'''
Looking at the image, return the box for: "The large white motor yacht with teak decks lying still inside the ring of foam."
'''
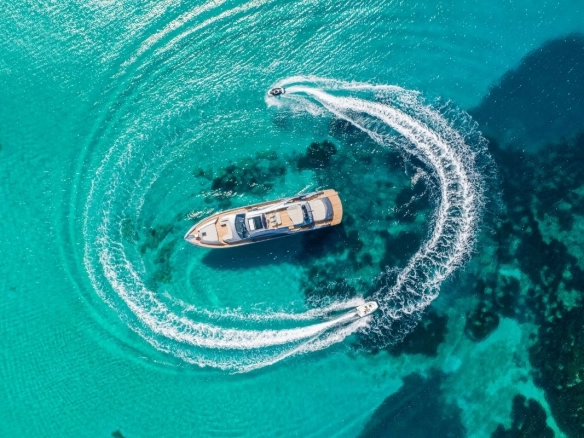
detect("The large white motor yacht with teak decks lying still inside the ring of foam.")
[184,189,343,248]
